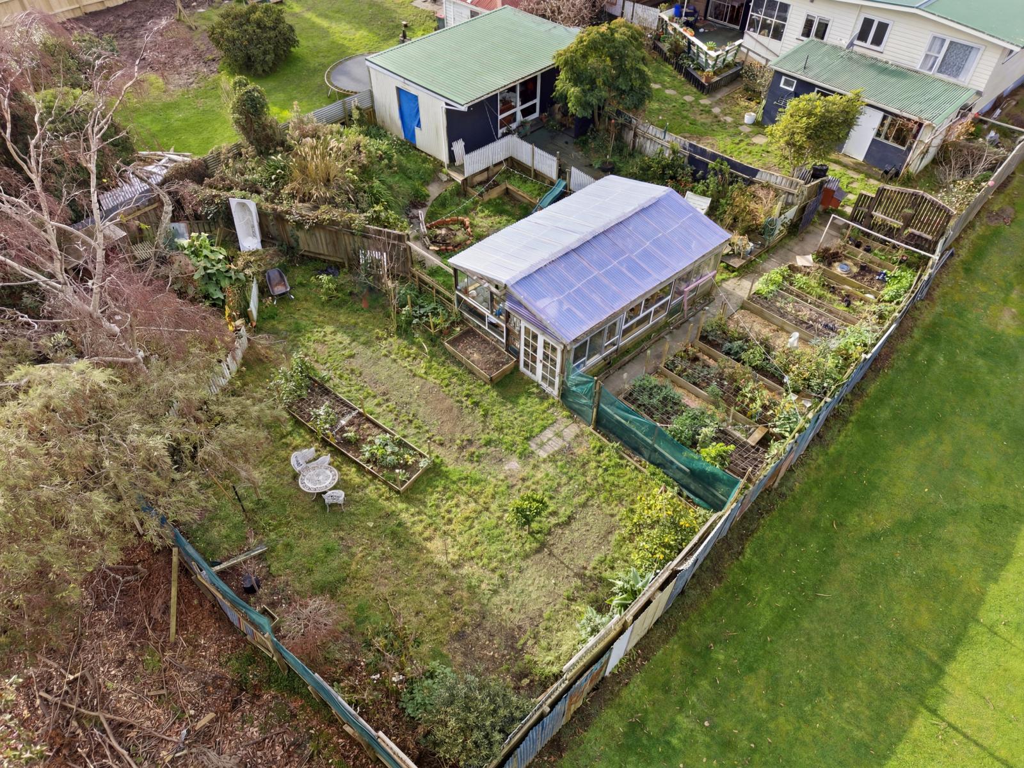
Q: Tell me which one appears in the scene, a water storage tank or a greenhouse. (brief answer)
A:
greenhouse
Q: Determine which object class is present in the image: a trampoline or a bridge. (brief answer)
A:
trampoline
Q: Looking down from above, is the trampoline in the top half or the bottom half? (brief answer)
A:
top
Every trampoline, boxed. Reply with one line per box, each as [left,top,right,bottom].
[323,59,372,108]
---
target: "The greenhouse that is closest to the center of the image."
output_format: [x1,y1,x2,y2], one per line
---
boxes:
[443,175,727,396]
